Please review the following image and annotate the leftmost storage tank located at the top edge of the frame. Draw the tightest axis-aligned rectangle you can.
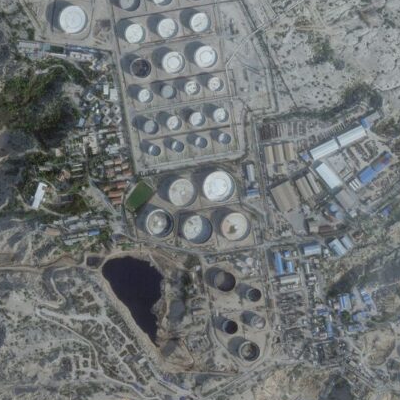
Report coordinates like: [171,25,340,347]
[57,4,88,35]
